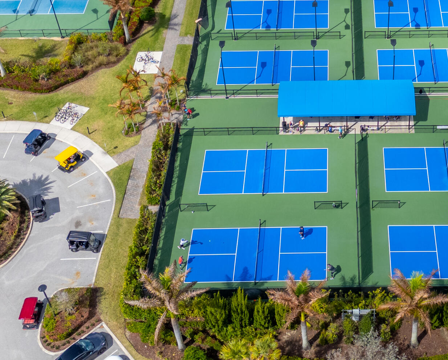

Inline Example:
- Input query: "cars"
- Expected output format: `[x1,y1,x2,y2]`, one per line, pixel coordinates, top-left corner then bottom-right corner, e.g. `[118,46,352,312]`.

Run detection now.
[53,331,110,360]
[97,353,123,360]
